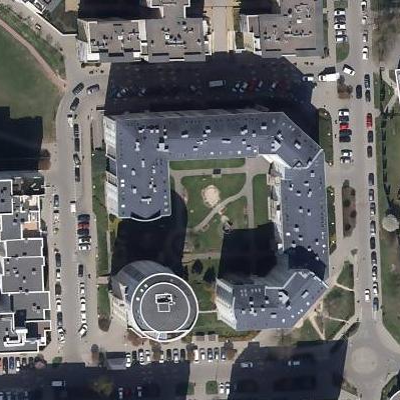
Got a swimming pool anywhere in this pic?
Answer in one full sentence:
No, no swimming pool can be seen from above.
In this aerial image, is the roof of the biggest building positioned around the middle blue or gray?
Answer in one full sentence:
The roof of the biggest building positioned around the middle is gray.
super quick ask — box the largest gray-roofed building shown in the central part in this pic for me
[107,108,327,284]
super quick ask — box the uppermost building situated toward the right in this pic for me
[238,0,323,58]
